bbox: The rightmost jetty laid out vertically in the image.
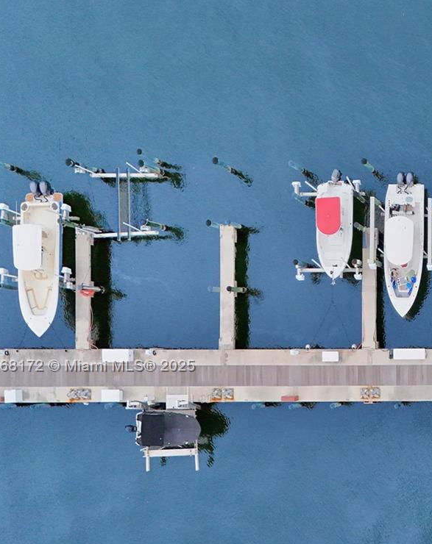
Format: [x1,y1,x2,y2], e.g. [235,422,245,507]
[362,228,381,350]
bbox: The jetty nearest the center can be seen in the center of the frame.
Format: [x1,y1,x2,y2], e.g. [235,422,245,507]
[221,224,240,350]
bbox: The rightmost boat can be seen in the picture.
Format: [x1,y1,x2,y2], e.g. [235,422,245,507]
[384,173,425,317]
